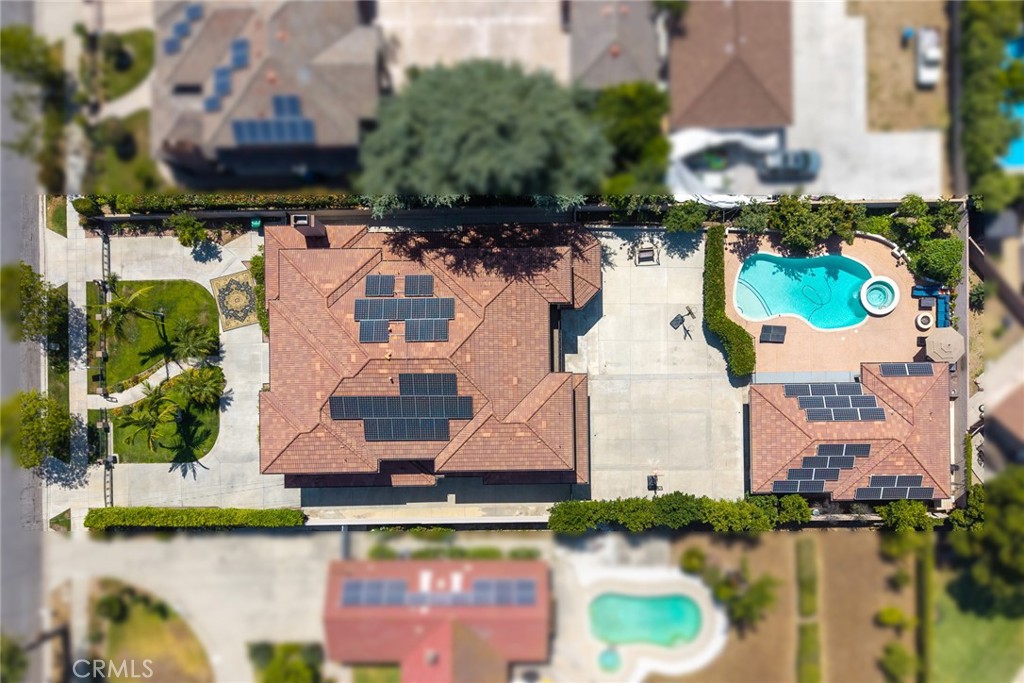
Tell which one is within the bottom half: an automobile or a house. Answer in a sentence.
The feature located within the bottom half is a house.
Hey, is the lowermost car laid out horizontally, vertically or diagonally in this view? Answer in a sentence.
Seen from above, the lowermost car lies horizontally.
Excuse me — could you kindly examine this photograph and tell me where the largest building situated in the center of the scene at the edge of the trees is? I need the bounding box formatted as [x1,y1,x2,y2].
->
[259,214,601,490]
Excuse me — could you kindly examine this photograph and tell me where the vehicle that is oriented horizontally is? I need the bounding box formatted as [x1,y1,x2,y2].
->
[754,153,818,183]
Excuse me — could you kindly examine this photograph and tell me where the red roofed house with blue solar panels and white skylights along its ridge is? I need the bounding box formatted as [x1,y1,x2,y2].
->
[324,554,551,683]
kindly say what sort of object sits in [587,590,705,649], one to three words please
swimming pool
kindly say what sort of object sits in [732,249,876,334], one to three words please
swimming pool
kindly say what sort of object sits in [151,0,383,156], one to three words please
house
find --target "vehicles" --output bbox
[754,153,818,183]
[912,27,946,89]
